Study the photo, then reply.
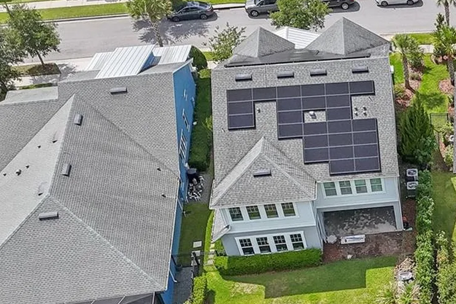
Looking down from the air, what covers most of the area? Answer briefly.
buildings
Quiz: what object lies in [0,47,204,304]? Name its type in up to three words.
house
